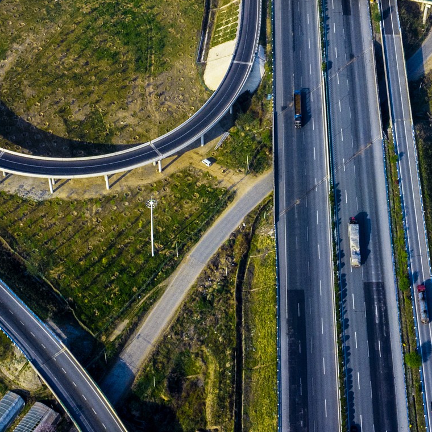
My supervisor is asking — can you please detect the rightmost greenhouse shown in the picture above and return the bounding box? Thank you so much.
[16,402,61,432]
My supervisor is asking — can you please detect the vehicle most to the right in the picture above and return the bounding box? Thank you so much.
[415,288,429,326]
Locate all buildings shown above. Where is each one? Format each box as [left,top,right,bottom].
[0,393,25,432]
[16,402,61,432]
